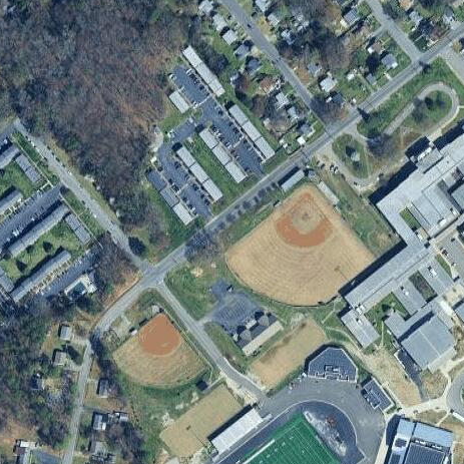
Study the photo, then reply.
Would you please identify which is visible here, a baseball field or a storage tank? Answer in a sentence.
The image shows a baseball field.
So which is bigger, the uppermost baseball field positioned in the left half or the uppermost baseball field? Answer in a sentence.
The uppermost baseball field positioned in the left half is smaller than the uppermost baseball field.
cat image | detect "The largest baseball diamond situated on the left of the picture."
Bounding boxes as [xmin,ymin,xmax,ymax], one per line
[113,313,208,387]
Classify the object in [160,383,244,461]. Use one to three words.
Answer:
sports field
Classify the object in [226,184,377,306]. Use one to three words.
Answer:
baseball field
